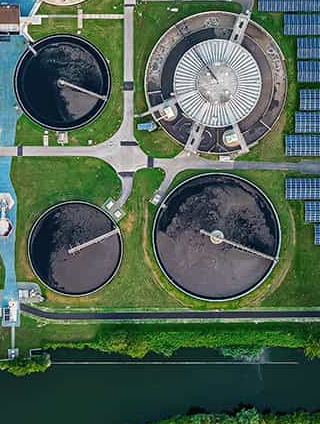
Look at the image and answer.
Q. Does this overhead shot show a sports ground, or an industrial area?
industrial area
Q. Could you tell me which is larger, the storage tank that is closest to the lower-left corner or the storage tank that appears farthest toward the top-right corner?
the storage tank that appears farthest toward the top-right corner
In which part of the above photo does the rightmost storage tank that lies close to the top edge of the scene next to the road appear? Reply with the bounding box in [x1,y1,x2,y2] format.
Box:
[144,12,287,154]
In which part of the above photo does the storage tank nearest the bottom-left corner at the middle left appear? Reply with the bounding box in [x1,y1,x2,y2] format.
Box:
[28,200,123,295]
